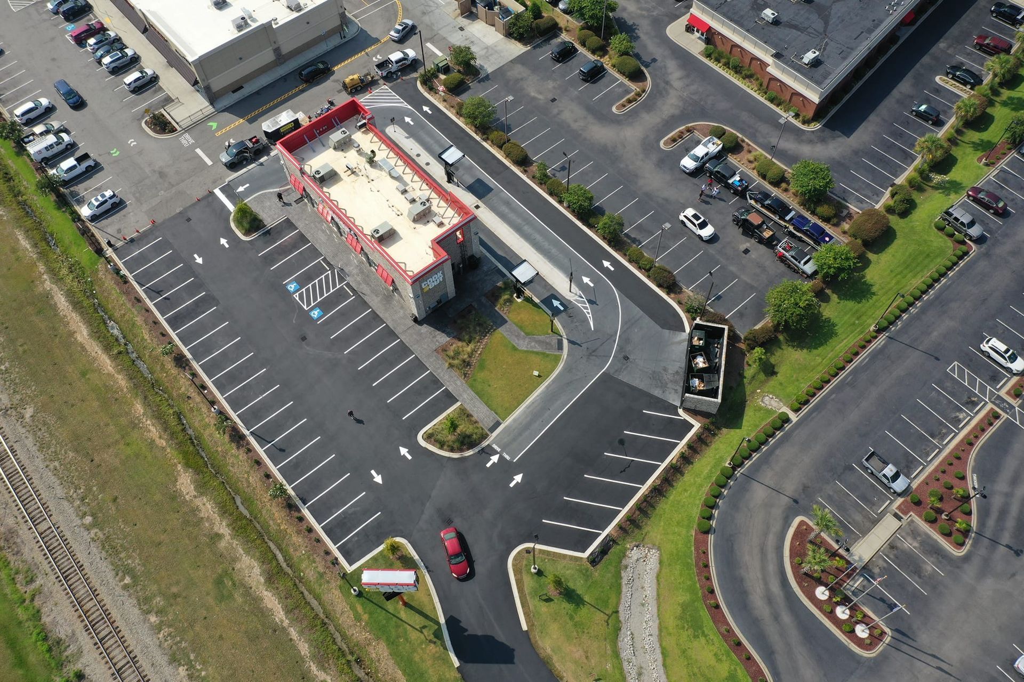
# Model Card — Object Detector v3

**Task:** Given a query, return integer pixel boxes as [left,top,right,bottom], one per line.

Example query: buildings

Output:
[107,0,366,107]
[276,101,480,321]
[680,0,927,118]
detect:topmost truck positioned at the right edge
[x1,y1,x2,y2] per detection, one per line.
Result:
[990,4,1024,27]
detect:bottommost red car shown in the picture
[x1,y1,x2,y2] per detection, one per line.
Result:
[441,525,469,580]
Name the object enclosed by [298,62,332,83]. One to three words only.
car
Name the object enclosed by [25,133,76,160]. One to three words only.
vehicle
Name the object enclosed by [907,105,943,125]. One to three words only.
car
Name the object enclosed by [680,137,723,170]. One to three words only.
truck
